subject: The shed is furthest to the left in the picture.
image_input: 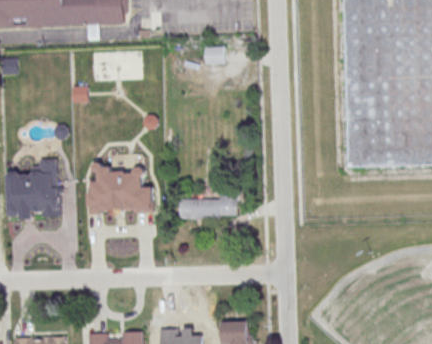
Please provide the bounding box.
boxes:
[1,58,20,76]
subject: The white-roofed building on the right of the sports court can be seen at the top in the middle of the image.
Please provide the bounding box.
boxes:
[204,47,228,66]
